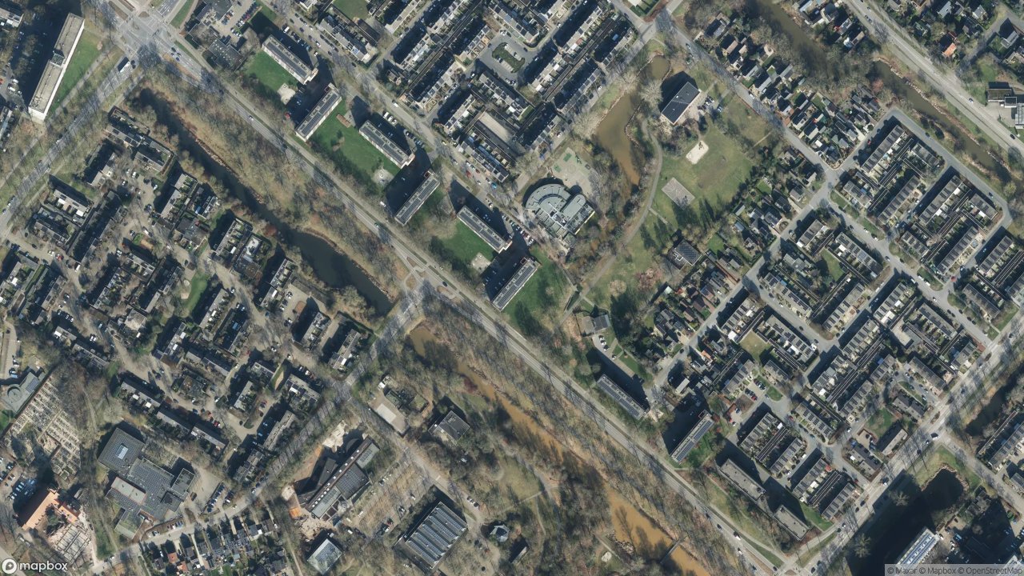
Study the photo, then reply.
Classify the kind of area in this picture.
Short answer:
residential area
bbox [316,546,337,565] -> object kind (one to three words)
solar array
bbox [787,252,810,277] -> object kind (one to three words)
house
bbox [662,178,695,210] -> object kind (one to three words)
basketball court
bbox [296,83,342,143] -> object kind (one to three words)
building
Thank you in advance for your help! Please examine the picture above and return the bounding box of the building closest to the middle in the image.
[492,257,539,315]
